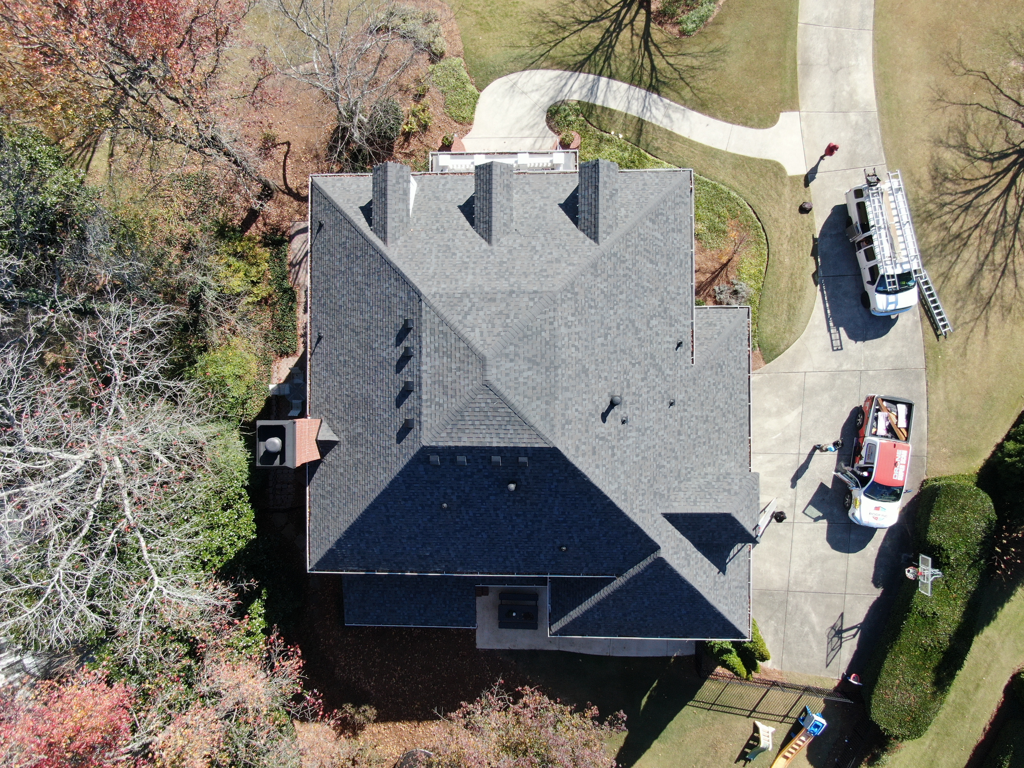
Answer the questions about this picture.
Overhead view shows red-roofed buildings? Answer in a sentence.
No, I find no red-roofed building anywhere in the image.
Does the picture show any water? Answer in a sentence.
No, no water is visible.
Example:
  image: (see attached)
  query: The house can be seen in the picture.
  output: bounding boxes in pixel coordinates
[259,151,760,640]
